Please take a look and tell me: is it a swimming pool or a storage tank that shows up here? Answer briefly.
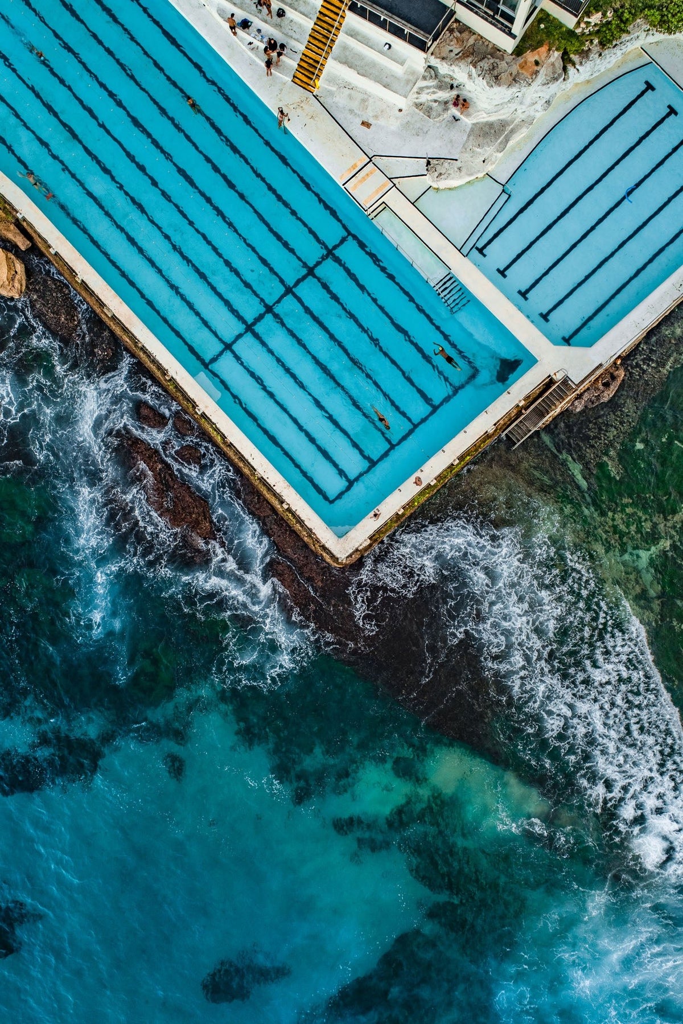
swimming pool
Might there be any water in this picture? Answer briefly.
Yes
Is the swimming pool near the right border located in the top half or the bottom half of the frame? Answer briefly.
top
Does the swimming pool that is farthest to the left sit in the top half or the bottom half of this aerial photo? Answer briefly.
top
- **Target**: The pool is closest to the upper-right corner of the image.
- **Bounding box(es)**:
[415,64,683,347]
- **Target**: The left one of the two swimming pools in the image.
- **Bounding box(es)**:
[0,0,538,538]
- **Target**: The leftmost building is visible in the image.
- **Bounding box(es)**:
[449,0,542,55]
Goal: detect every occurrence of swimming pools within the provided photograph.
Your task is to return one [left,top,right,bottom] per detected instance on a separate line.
[415,64,683,347]
[0,0,538,538]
